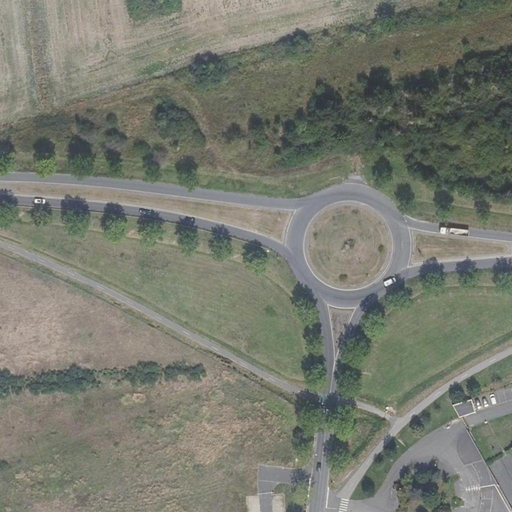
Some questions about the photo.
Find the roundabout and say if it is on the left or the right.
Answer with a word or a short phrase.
right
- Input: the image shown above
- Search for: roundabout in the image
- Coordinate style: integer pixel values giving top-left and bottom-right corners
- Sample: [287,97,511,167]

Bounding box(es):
[286,184,410,307]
